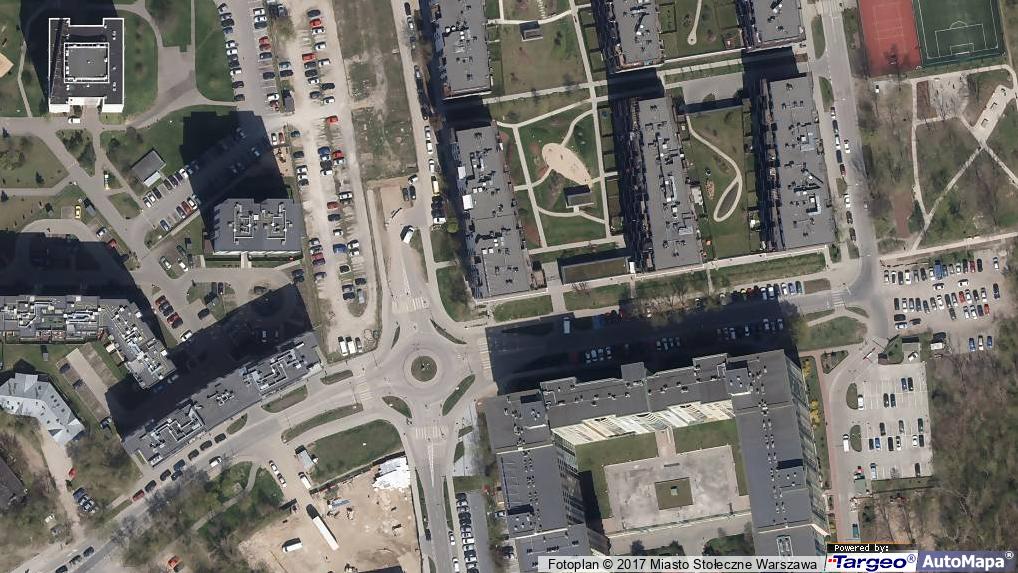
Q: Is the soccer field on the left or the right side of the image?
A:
right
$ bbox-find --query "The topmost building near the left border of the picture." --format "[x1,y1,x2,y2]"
[49,18,126,113]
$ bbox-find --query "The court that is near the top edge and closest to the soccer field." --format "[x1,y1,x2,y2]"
[860,0,923,76]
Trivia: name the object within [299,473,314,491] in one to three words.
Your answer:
vehicle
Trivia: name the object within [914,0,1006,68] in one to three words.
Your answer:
soccer field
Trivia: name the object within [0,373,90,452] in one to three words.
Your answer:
house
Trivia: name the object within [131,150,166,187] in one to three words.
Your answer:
building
